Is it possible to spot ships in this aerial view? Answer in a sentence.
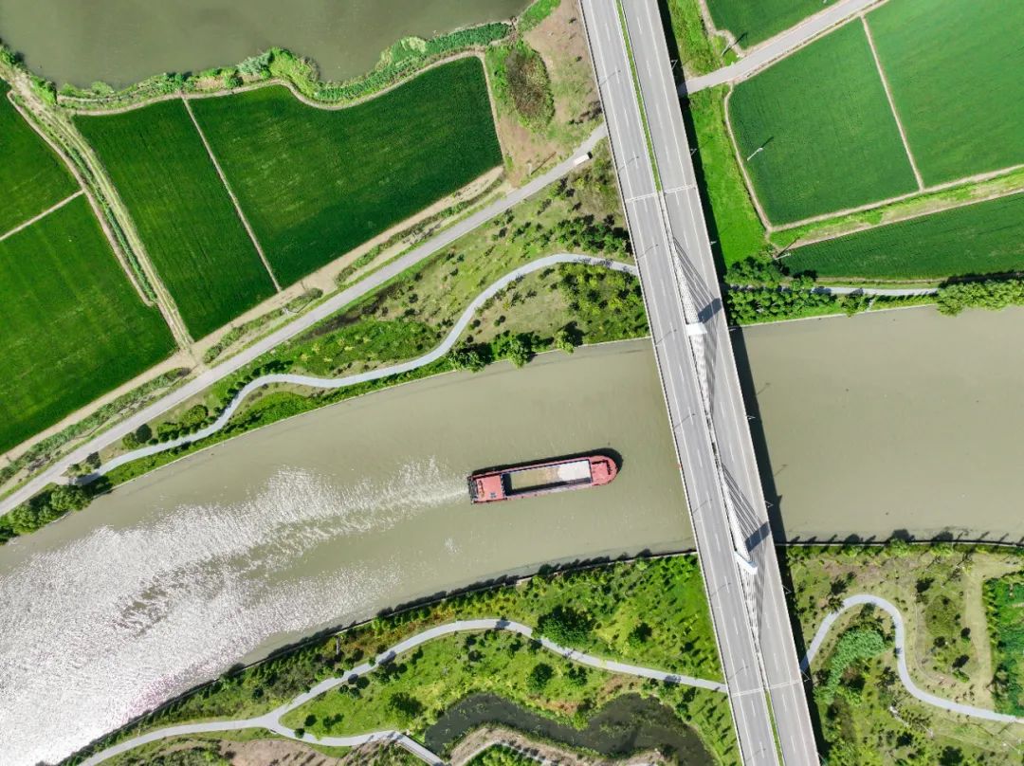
Yes, looking at the shot, I can spot a ship.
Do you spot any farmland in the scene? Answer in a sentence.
Yes, the picture does contain farmland.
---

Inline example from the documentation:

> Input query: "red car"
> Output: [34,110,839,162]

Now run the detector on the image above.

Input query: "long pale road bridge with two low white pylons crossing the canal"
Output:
[579,0,821,766]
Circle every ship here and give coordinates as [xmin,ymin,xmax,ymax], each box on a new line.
[467,459,620,507]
